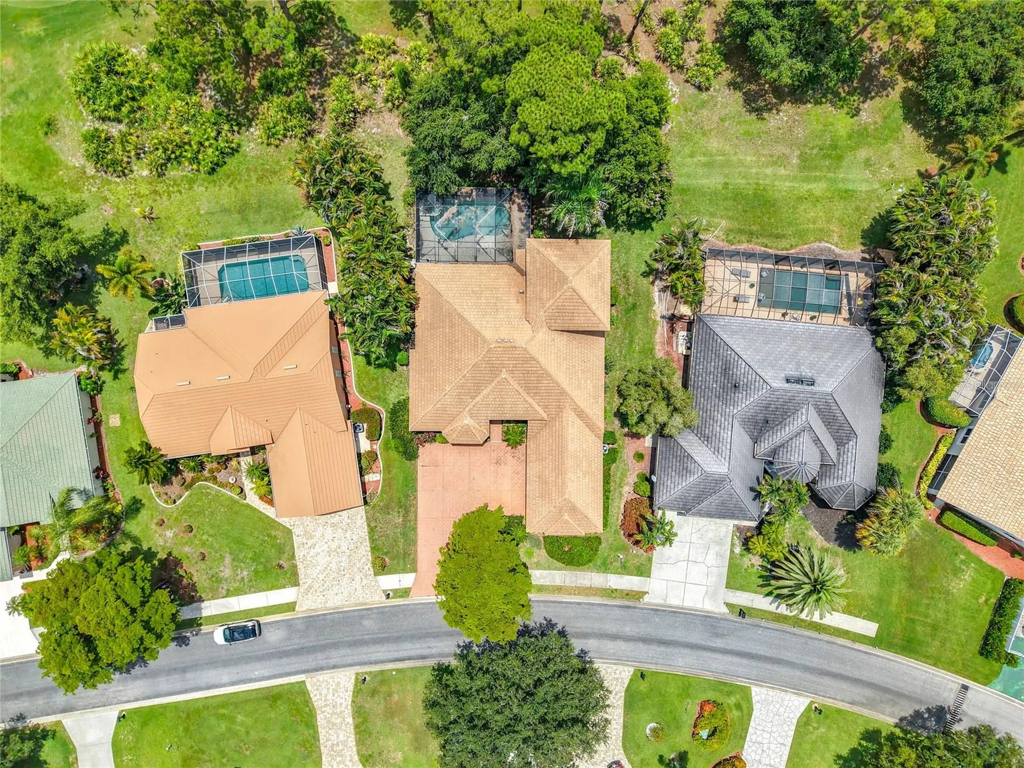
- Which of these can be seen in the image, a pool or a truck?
pool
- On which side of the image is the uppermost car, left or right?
left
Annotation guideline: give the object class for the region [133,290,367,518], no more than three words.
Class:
house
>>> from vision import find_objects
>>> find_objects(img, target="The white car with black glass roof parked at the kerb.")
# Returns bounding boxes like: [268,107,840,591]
[213,618,264,646]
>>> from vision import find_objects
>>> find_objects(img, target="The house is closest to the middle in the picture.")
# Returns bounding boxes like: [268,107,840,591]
[409,238,612,536]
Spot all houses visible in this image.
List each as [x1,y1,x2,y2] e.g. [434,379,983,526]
[925,308,1024,541]
[0,373,111,580]
[409,238,612,536]
[133,290,367,518]
[651,313,886,522]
